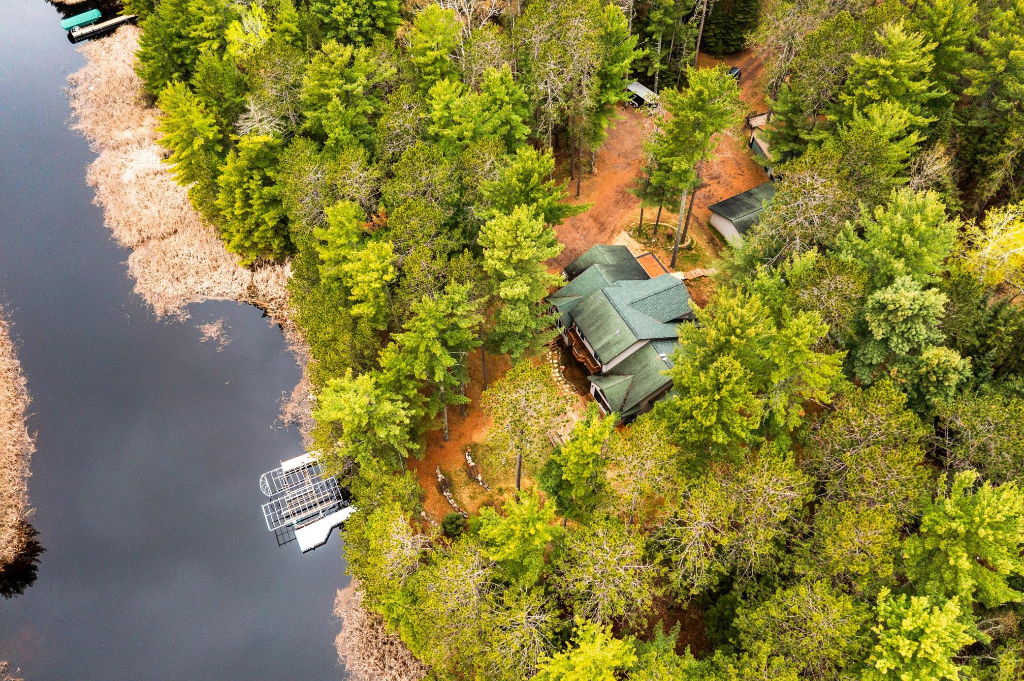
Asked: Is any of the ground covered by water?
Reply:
Yes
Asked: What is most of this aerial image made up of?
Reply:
trees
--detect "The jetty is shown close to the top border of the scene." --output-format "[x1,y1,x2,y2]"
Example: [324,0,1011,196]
[72,13,139,40]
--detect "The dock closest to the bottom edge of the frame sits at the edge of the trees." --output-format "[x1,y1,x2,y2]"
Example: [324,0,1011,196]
[295,507,366,552]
